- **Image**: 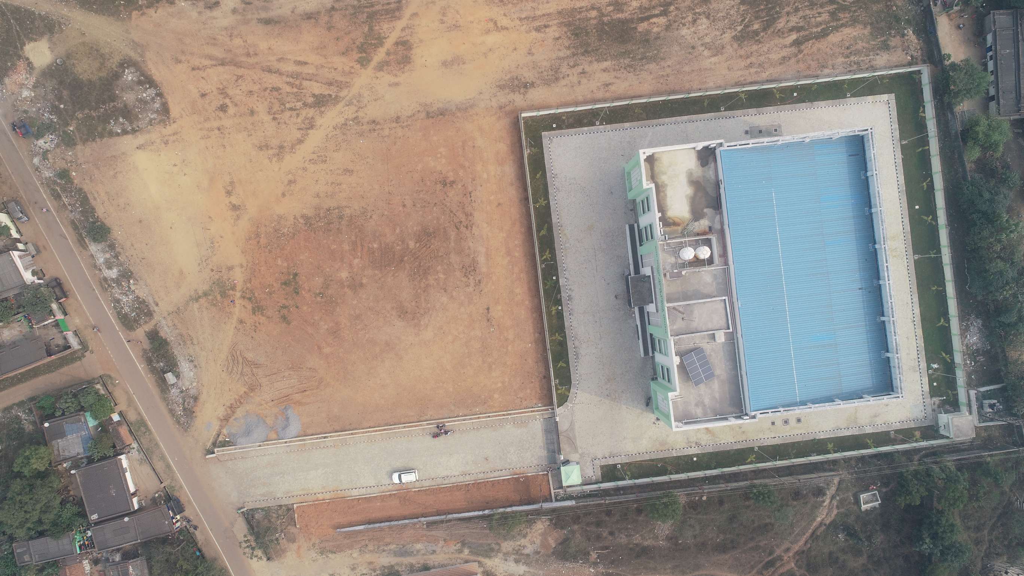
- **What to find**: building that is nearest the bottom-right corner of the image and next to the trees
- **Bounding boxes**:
[941,410,975,439]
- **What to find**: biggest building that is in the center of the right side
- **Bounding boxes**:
[619,125,910,431]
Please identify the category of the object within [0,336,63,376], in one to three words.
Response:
house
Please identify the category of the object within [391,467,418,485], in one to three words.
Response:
car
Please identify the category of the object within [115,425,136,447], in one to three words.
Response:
shed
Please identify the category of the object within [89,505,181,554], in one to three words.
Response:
house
